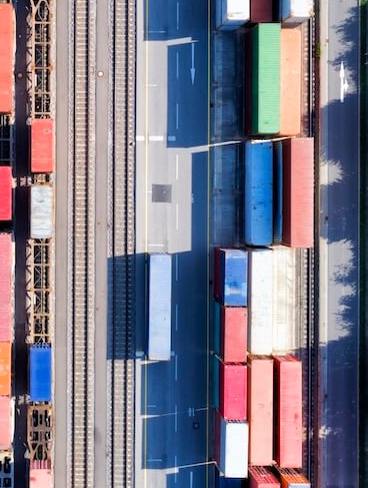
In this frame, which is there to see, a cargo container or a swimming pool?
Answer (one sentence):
Looking from above, you can make out a cargo container.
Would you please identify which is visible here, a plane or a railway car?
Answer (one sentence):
There is a railway car in the scene.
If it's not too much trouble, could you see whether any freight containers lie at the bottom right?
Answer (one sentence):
Yes, at the bottom right there is a freight container.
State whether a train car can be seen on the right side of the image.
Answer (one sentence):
No, there is no train car on the right side of the image.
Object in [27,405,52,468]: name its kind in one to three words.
rail car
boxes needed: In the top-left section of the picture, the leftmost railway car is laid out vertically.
[0,1,15,225]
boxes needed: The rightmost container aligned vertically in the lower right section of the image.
[271,355,302,468]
